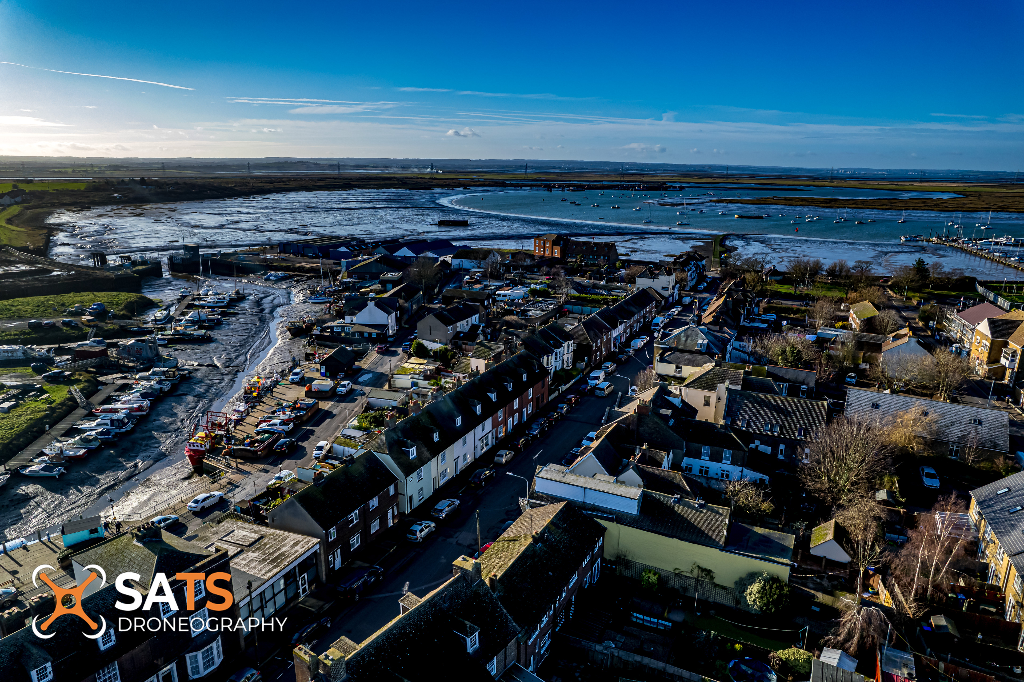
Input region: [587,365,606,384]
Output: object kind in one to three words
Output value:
vehicle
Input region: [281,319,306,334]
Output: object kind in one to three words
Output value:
boat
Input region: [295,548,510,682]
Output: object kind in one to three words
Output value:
house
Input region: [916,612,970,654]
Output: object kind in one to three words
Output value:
shed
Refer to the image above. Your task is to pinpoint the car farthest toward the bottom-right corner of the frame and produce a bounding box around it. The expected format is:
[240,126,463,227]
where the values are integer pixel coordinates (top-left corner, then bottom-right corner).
[918,466,942,488]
